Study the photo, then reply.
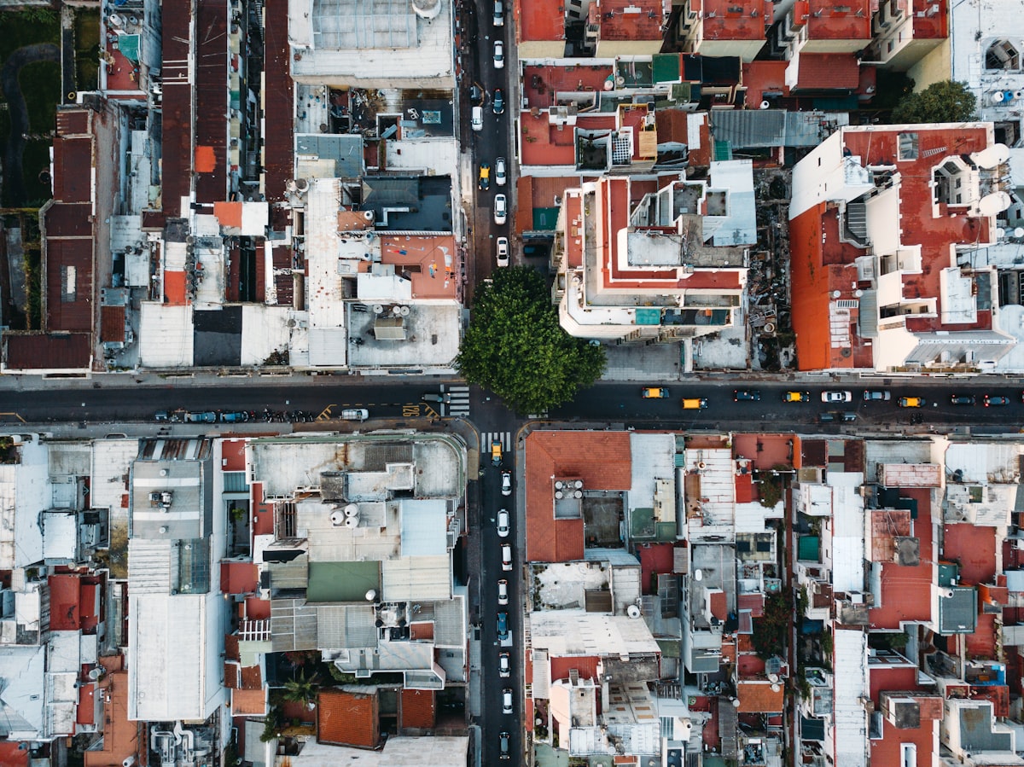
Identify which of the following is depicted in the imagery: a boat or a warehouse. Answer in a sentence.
This aerial view contains a warehouse.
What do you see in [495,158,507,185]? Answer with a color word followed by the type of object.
white vehicle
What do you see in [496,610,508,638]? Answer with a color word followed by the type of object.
blue vehicle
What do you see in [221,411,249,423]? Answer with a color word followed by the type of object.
blue vehicle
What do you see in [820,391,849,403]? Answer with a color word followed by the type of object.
white vehicle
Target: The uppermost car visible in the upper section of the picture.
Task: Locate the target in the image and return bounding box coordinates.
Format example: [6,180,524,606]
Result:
[492,1,504,27]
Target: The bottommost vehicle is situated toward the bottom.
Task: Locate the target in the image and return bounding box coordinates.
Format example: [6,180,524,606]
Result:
[498,730,510,758]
